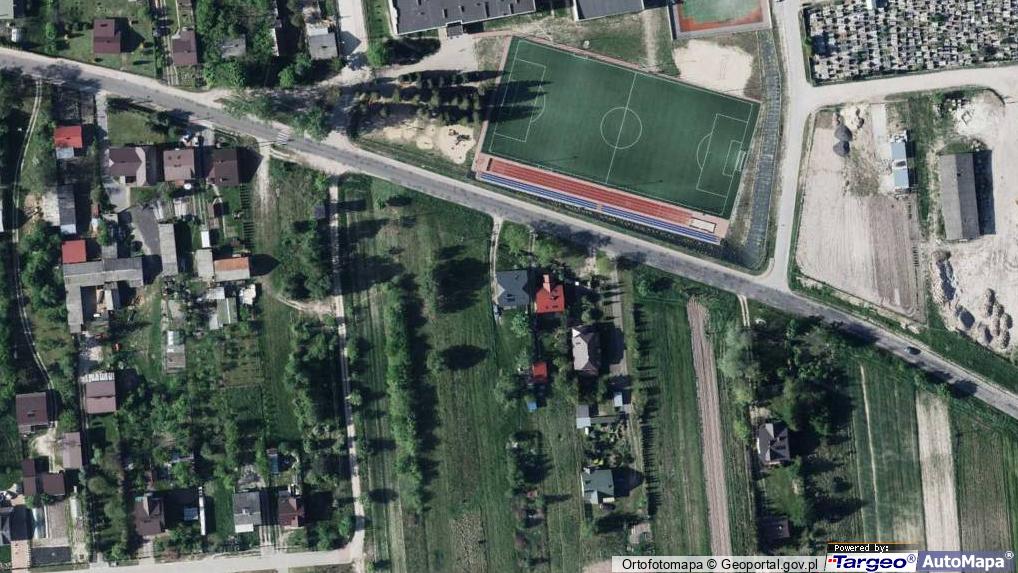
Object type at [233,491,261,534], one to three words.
house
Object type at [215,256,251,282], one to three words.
barn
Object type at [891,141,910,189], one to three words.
building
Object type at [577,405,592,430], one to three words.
shed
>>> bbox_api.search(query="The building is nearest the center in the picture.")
[495,271,532,309]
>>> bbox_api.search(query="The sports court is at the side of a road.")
[673,0,771,38]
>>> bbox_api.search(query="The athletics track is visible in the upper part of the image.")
[488,158,691,223]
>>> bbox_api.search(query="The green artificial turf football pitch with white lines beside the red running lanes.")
[481,36,760,219]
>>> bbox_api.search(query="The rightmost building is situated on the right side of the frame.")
[939,152,979,243]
